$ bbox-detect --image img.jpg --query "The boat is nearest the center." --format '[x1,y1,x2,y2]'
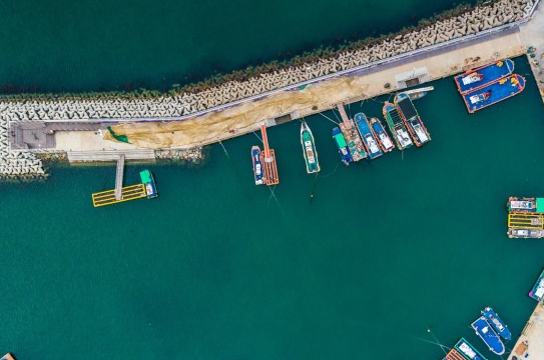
[252,145,265,187]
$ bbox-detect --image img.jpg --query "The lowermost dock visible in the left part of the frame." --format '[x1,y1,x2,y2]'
[91,184,148,208]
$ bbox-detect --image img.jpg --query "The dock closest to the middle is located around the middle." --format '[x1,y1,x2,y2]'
[262,148,280,186]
